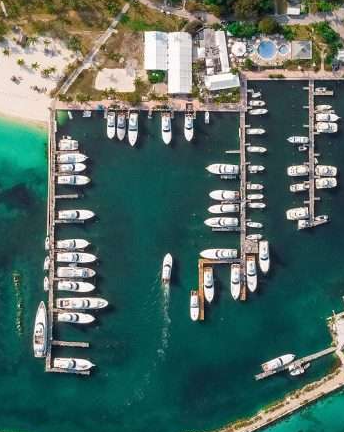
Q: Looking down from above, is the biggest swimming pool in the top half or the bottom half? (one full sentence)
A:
The top half of the photo is where the biggest swimming pool is.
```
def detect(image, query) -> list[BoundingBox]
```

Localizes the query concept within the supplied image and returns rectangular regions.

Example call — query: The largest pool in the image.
[256,39,277,60]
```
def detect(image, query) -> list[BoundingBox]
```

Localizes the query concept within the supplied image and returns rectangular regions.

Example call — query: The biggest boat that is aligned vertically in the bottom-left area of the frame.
[32,302,46,358]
